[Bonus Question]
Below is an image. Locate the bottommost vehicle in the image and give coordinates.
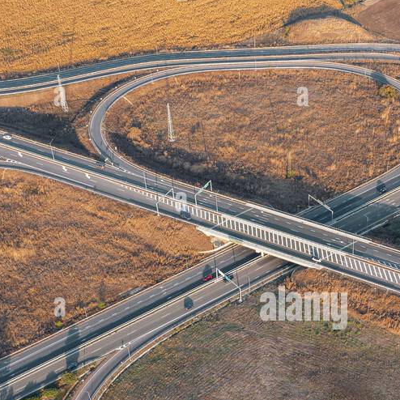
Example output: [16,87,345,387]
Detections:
[61,358,81,372]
